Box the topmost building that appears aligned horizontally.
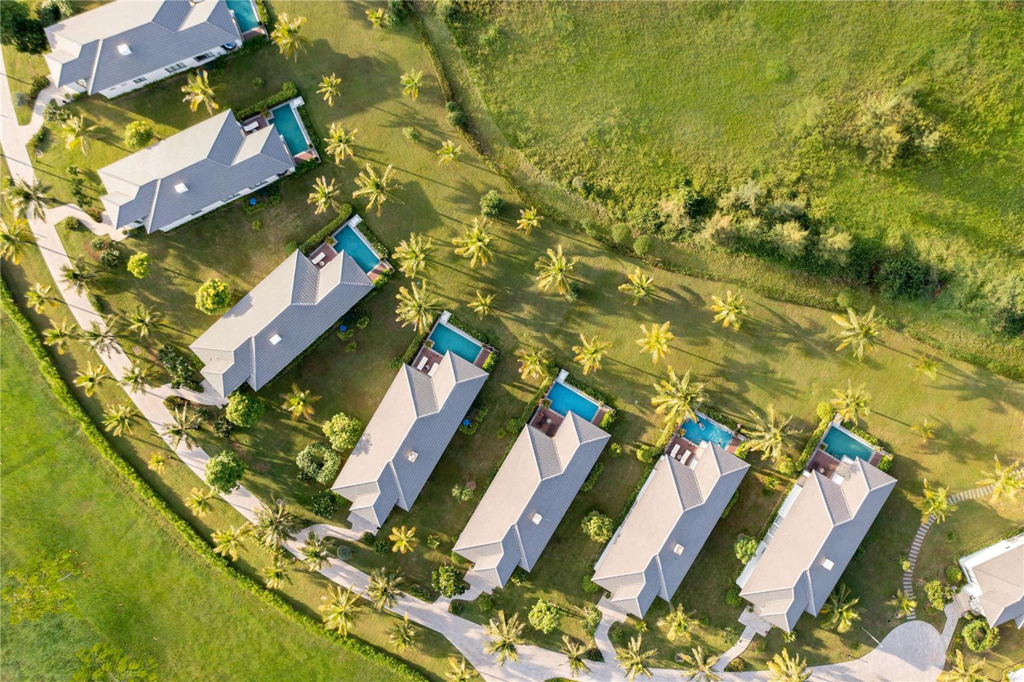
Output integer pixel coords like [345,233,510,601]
[43,0,243,99]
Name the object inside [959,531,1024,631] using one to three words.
house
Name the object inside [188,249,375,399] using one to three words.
house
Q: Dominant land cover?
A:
grass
